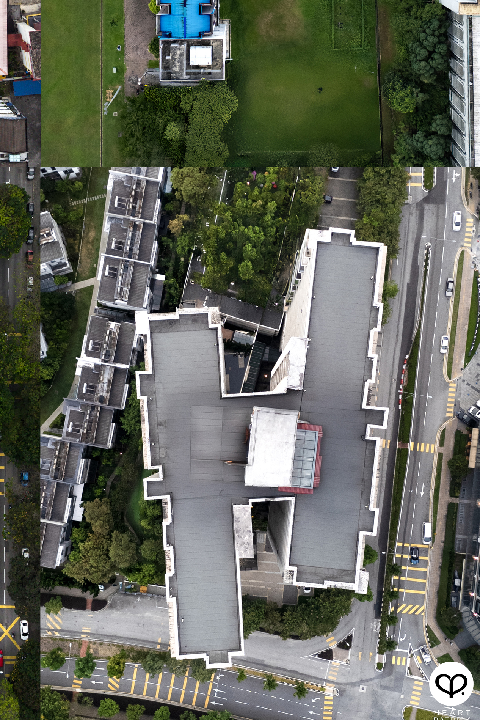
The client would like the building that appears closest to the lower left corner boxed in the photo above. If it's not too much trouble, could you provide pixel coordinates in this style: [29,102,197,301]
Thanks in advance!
[40,519,63,568]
